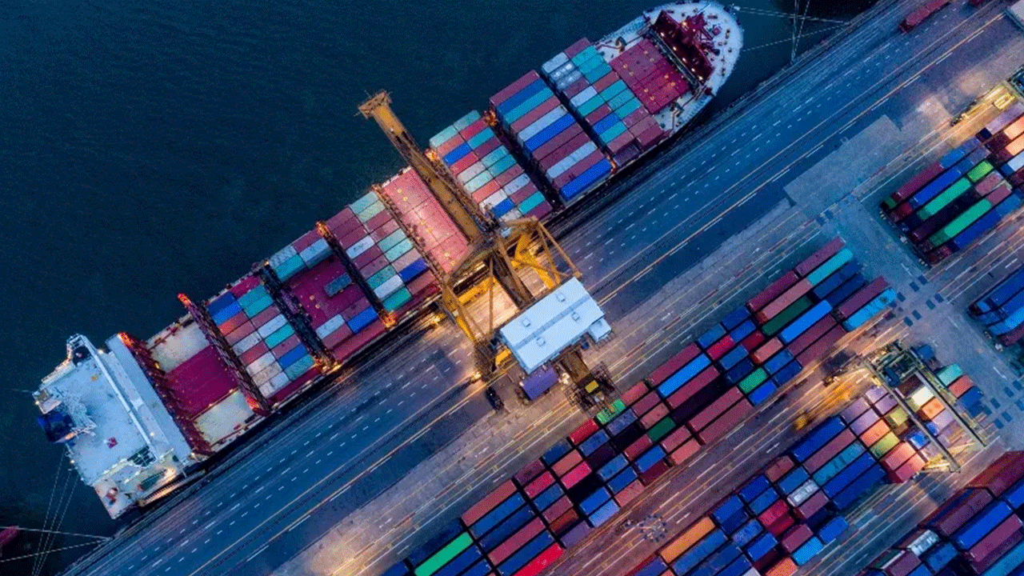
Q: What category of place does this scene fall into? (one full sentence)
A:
What you see here is a port.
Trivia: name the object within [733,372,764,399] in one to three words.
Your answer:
shipping container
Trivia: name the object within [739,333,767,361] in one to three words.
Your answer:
shipping container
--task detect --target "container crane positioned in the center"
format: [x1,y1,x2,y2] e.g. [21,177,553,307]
[360,84,629,420]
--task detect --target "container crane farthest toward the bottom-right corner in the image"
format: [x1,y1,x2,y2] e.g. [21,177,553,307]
[834,338,988,482]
